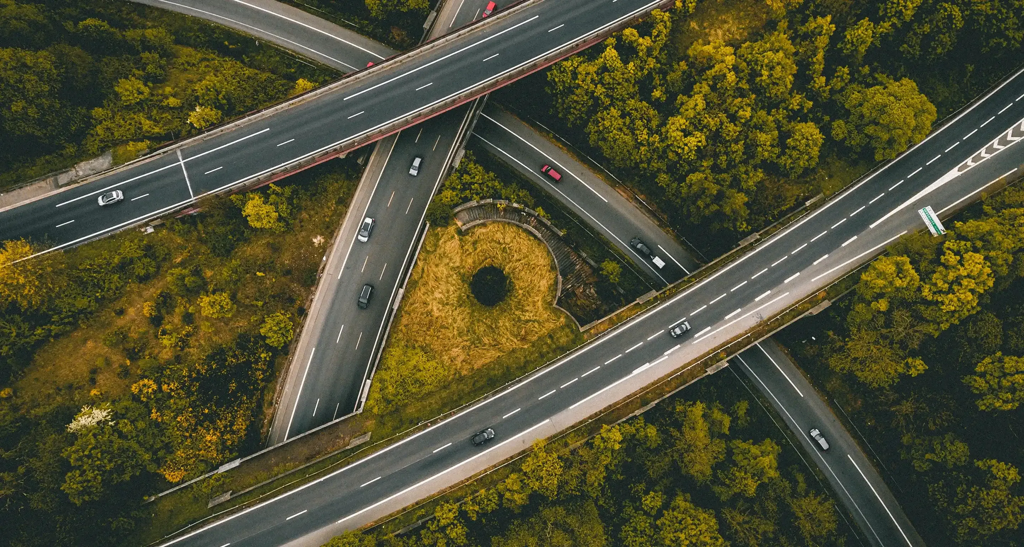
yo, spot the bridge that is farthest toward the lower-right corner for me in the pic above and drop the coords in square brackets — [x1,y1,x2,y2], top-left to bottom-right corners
[620,221,835,391]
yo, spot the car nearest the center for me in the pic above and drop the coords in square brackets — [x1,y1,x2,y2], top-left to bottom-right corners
[541,165,562,182]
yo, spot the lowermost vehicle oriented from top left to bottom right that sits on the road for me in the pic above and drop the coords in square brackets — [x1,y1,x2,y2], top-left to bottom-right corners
[808,427,831,452]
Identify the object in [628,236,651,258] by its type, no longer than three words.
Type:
car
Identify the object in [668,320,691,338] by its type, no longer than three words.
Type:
car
